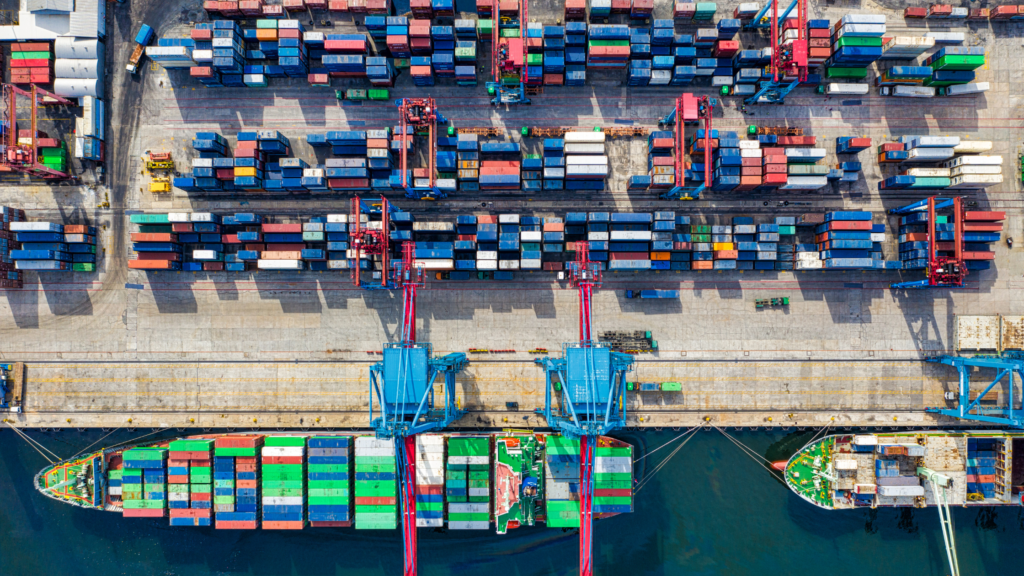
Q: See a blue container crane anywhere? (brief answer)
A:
Yes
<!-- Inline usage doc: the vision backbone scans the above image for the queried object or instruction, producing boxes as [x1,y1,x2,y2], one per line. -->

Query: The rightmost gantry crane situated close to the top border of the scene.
[744,0,807,101]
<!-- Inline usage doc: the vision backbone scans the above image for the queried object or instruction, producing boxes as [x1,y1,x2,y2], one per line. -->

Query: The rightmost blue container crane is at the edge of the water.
[928,354,1024,438]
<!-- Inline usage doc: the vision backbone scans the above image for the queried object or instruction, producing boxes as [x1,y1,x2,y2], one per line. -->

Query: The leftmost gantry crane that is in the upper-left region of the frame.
[5,84,84,178]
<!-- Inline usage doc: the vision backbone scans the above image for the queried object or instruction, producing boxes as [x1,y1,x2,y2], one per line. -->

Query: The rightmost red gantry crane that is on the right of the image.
[887,198,964,289]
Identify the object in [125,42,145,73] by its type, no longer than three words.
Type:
vehicle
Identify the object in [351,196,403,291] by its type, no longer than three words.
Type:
container crane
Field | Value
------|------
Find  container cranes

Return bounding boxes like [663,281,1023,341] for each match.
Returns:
[744,0,807,101]
[365,243,470,576]
[398,99,447,200]
[656,93,712,200]
[488,0,530,102]
[534,243,632,576]
[887,198,964,289]
[5,84,84,178]
[351,196,403,291]
[928,354,1024,438]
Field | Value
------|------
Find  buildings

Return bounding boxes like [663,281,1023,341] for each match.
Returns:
[0,0,107,102]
